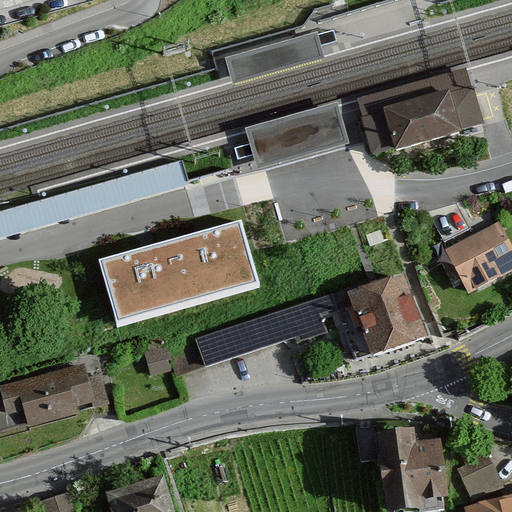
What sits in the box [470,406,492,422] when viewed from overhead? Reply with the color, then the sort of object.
white car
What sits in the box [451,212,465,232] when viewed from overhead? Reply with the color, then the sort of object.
red car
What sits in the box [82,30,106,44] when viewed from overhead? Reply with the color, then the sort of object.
white car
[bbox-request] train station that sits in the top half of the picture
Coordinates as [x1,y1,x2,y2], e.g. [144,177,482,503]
[358,68,484,154]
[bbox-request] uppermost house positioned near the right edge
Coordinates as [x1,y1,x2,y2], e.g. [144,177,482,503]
[441,222,512,294]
